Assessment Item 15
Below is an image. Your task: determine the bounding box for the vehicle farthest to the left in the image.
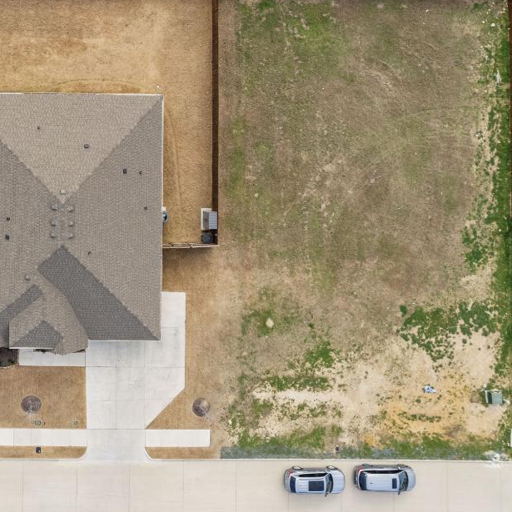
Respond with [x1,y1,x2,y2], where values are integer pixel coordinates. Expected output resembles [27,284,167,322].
[284,466,343,496]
